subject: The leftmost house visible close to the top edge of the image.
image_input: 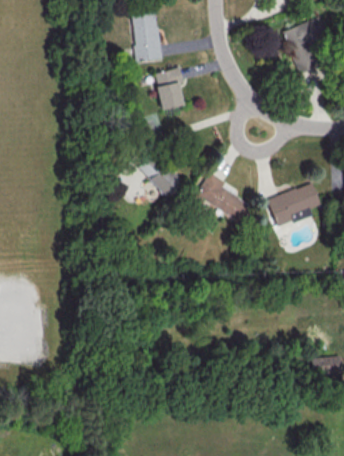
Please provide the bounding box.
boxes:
[132,14,163,64]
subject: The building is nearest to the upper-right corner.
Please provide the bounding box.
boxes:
[282,16,321,70]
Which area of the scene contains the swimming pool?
right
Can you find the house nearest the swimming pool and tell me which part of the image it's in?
right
